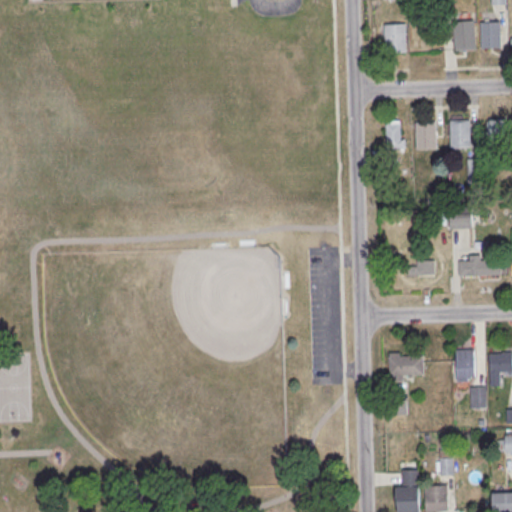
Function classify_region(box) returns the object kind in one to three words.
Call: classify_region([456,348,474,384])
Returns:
house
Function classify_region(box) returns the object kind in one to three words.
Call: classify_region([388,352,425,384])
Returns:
house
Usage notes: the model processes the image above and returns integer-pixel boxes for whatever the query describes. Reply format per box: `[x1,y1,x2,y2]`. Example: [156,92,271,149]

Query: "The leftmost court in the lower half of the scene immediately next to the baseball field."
[0,352,32,422]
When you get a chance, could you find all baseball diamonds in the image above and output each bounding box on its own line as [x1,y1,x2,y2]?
[42,247,286,487]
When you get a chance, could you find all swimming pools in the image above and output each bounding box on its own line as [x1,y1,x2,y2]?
[468,470,484,486]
